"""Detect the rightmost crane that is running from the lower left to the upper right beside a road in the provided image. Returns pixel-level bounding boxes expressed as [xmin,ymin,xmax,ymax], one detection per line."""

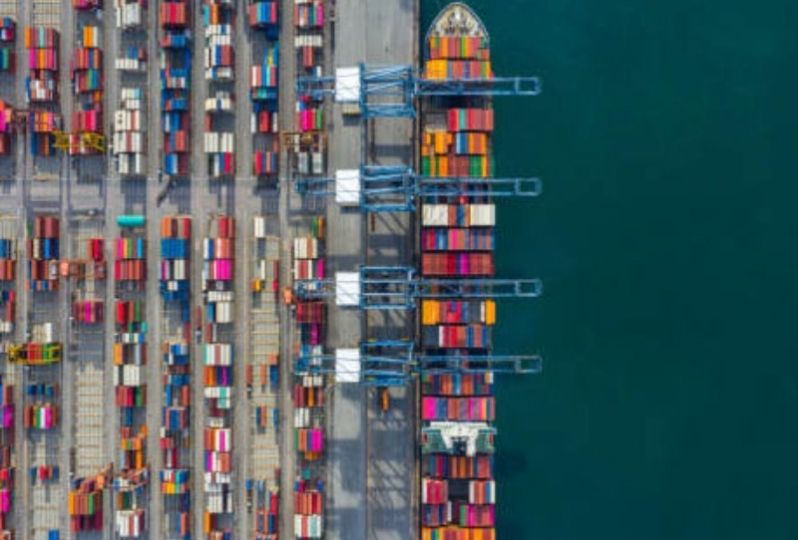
[115,457,158,495]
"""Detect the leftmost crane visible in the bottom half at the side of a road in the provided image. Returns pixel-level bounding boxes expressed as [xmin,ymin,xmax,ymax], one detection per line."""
[9,339,65,364]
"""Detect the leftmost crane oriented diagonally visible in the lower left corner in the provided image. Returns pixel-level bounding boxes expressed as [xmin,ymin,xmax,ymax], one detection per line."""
[79,452,122,489]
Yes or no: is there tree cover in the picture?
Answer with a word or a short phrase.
No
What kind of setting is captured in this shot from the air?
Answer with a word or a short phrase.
port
